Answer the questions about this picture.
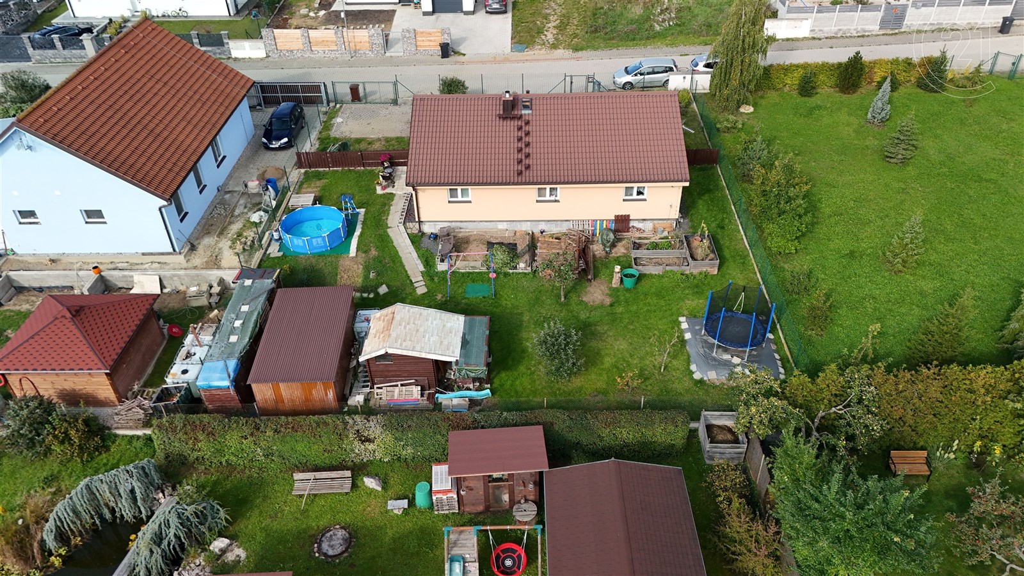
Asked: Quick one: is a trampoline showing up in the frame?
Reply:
Yes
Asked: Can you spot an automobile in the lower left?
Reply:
No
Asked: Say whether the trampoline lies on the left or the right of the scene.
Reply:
right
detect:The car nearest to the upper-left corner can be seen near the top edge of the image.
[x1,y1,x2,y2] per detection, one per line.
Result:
[26,16,90,38]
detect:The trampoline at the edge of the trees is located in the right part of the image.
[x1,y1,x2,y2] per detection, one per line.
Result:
[700,273,782,362]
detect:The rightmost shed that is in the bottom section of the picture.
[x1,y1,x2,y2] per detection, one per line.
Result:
[541,450,709,576]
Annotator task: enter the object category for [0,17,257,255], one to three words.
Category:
house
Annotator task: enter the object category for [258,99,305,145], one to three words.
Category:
car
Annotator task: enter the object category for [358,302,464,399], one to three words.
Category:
shed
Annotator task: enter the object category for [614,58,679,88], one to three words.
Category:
car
